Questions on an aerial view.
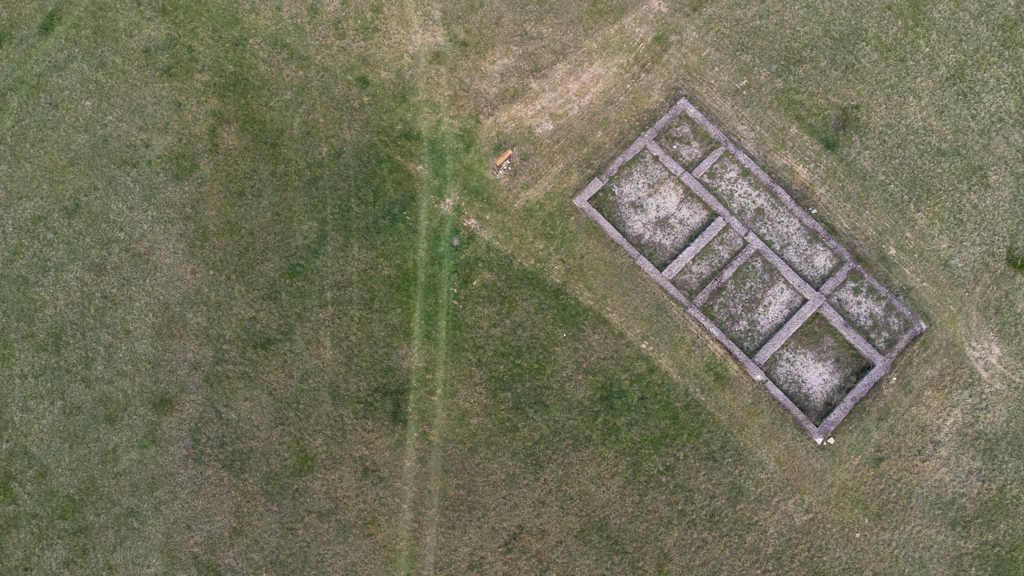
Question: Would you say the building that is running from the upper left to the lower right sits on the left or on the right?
right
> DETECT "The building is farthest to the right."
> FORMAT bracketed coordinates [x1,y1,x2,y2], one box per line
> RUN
[571,95,926,445]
